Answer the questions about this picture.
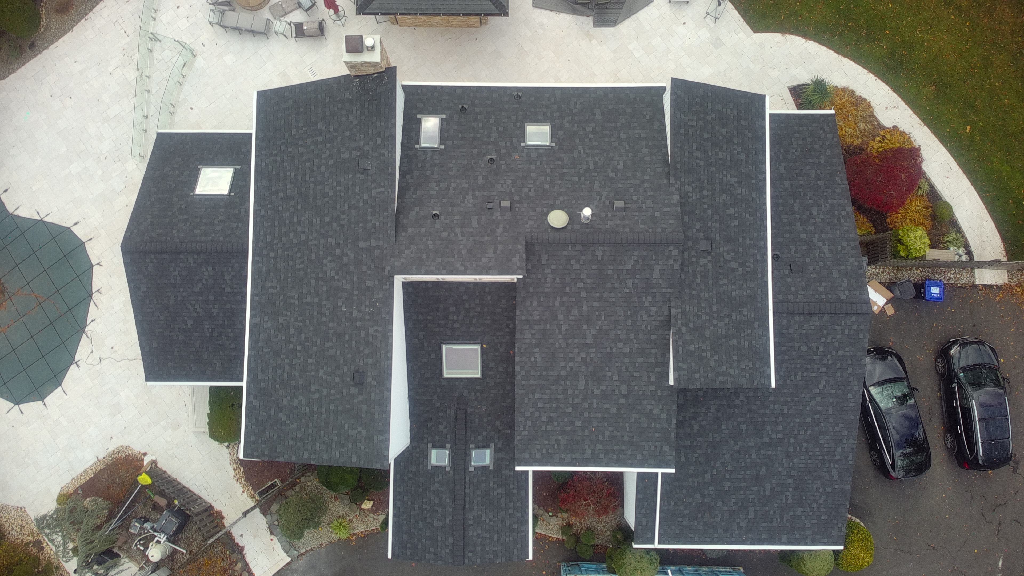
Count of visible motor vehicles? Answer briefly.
2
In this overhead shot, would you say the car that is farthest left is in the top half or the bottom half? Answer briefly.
bottom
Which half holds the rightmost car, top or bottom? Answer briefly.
bottom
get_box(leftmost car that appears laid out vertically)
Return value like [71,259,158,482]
[861,347,933,482]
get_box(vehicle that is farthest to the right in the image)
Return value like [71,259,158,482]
[935,338,1016,471]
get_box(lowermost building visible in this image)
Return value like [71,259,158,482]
[120,35,871,567]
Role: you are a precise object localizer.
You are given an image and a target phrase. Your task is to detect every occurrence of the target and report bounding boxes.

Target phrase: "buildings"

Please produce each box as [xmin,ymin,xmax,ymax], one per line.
[356,0,509,28]
[120,35,871,567]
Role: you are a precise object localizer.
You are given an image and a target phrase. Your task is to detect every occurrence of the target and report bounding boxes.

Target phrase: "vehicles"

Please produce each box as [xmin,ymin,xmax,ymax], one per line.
[861,347,933,482]
[935,338,1016,471]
